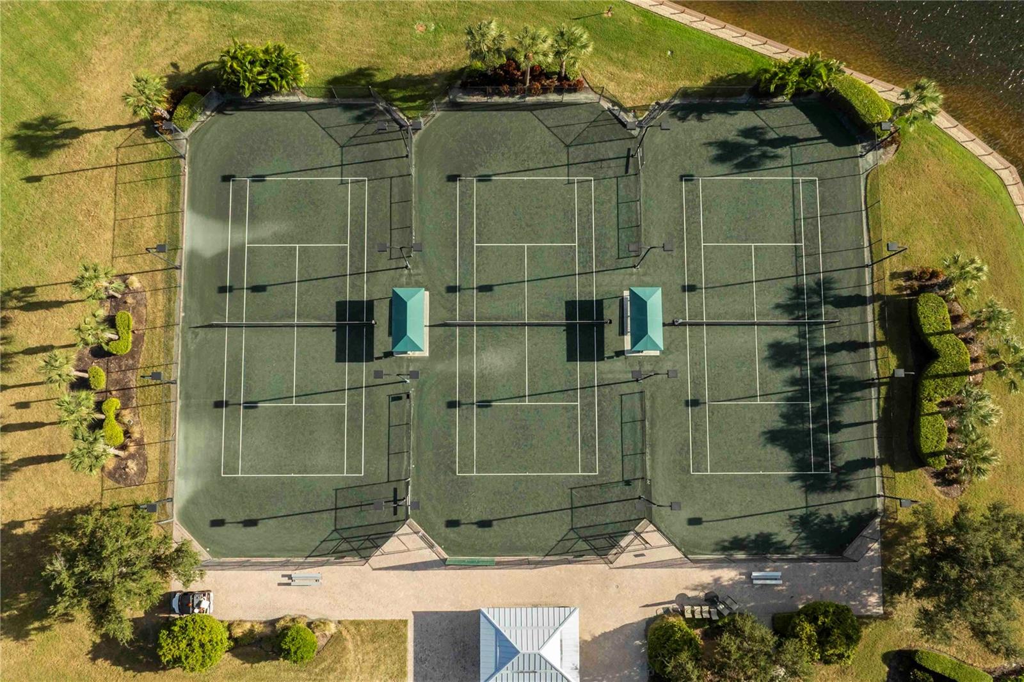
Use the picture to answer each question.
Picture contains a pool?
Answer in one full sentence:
No, I can see no pool in this picture.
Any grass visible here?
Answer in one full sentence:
Yes, the picture does contain grass.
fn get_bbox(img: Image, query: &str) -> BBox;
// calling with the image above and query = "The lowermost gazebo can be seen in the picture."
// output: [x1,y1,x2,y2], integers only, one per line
[480,605,579,682]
